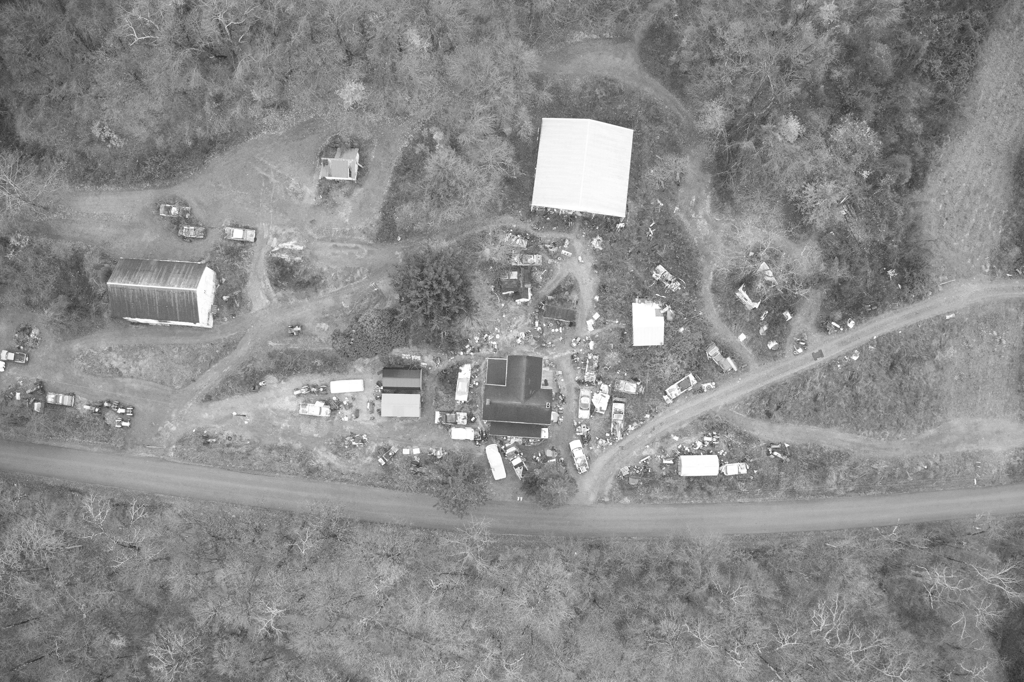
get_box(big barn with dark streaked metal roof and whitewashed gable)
[107,259,228,326]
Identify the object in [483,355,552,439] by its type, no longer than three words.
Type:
house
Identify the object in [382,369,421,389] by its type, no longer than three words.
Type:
shed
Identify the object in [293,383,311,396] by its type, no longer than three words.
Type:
vehicle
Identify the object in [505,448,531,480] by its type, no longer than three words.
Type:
truck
